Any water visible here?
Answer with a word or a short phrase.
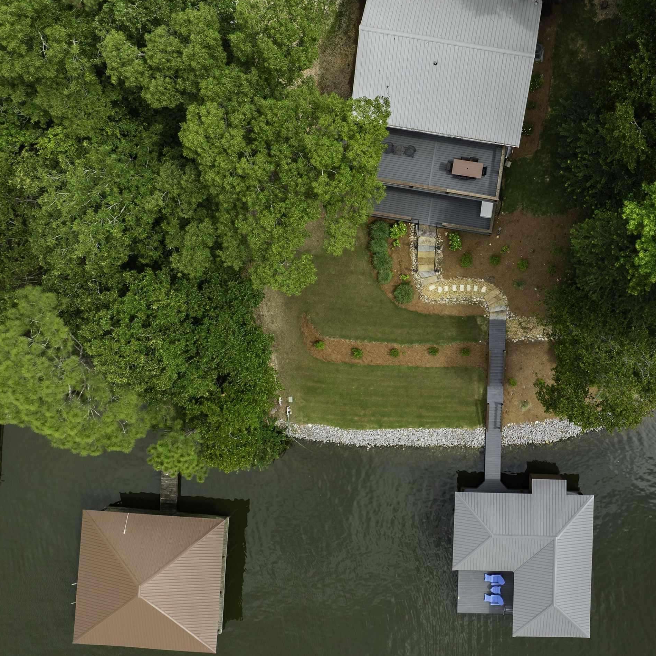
Yes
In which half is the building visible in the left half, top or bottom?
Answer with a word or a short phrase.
bottom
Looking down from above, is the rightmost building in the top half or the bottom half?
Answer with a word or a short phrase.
bottom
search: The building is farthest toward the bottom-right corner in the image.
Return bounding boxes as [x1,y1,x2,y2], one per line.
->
[451,465,595,639]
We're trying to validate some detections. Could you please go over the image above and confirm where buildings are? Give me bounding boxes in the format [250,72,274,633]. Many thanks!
[72,506,230,656]
[351,0,543,168]
[451,465,595,639]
